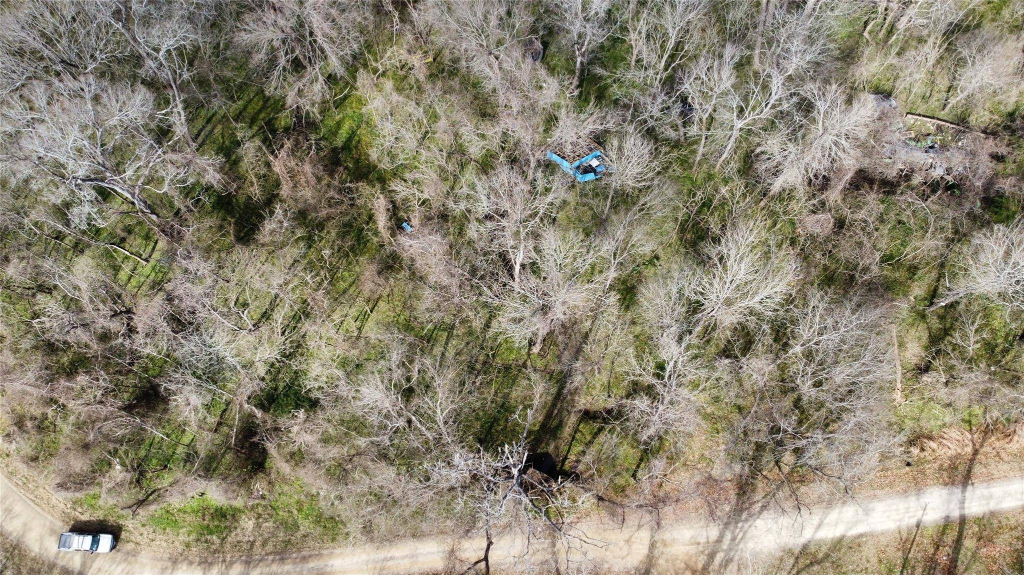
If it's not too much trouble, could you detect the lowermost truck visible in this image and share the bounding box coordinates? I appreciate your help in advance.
[57,532,117,557]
